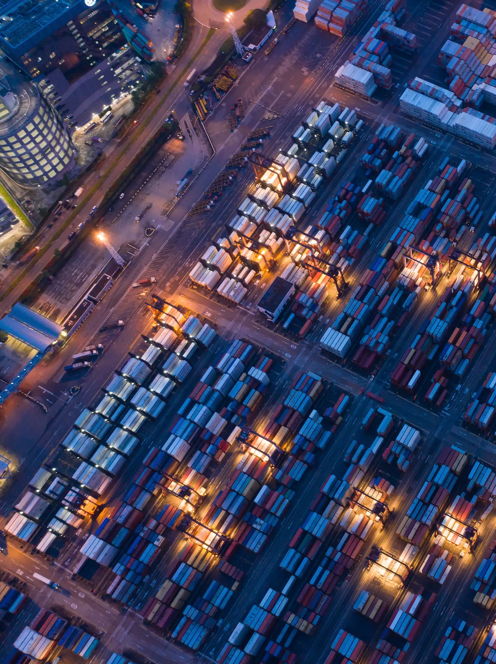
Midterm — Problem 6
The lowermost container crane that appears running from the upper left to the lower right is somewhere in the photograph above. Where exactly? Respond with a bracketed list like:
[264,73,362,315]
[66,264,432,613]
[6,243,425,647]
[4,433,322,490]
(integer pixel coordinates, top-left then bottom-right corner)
[366,546,414,587]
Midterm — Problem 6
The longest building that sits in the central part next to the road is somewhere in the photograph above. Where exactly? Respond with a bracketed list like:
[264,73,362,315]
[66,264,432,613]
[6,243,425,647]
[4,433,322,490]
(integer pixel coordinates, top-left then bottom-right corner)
[253,264,305,324]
